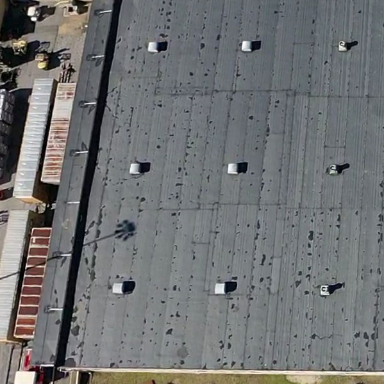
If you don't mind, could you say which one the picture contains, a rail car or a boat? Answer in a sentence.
I can see a rail car in this picture.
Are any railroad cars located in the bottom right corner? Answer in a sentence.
No, the scene shows no railroad car in the bottom right corner.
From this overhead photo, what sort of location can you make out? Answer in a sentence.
What you see here is an industrial area.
